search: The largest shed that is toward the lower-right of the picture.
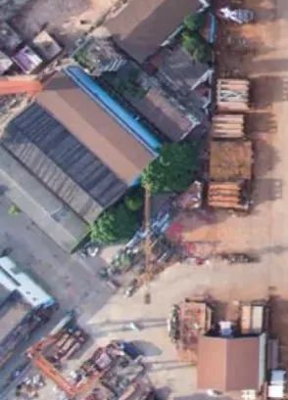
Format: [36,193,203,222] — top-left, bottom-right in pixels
[197,329,268,393]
